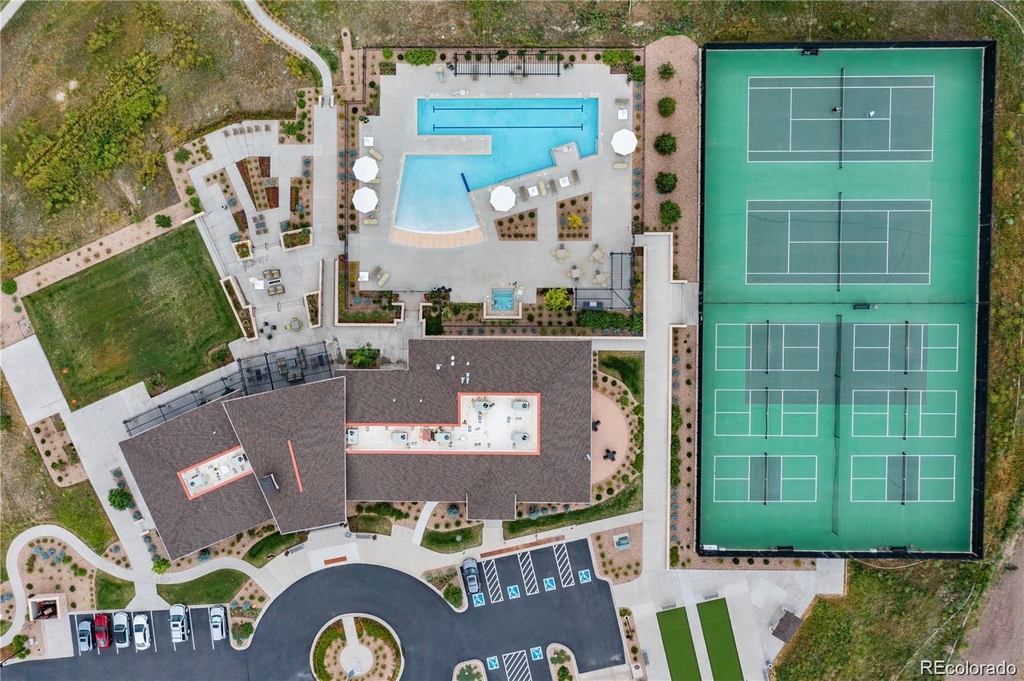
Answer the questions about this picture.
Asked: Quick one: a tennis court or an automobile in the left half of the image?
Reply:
automobile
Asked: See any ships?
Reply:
No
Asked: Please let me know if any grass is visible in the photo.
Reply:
Yes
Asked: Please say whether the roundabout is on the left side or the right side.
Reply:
left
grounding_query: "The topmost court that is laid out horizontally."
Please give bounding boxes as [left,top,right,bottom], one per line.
[748,75,935,162]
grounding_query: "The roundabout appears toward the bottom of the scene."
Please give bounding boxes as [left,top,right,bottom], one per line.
[310,613,405,681]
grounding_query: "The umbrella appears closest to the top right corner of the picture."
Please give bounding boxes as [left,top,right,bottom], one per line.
[611,129,637,155]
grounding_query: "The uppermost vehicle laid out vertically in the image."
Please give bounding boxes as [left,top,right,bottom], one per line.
[463,557,481,595]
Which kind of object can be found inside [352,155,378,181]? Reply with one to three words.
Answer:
umbrella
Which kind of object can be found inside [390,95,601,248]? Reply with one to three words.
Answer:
swimming pool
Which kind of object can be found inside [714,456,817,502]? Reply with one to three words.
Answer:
sports court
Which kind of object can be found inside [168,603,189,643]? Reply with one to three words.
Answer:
car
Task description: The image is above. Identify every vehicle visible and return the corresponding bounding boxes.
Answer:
[132,614,153,649]
[93,613,114,648]
[463,557,481,595]
[112,612,133,648]
[76,620,97,652]
[208,604,229,641]
[168,603,189,643]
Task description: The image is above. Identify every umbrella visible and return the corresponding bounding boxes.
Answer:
[352,187,378,213]
[611,129,637,155]
[352,155,378,181]
[490,186,515,211]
